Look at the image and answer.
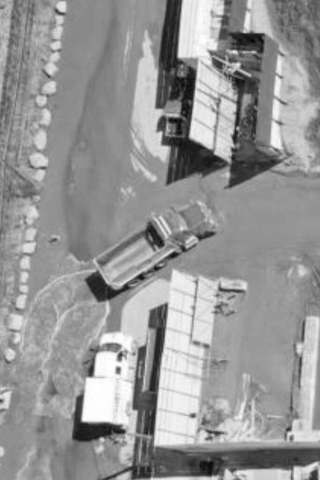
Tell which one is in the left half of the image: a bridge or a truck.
truck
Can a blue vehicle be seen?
No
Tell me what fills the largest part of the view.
paved ground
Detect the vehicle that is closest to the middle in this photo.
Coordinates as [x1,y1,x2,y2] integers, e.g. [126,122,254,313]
[86,197,226,293]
